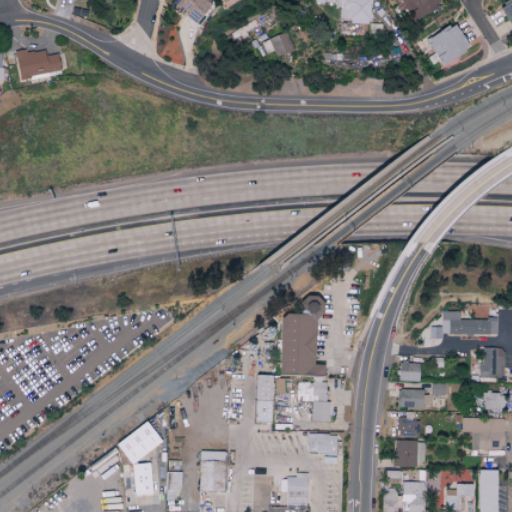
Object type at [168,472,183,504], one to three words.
building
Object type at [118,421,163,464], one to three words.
building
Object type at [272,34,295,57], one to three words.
barn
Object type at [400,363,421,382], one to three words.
house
